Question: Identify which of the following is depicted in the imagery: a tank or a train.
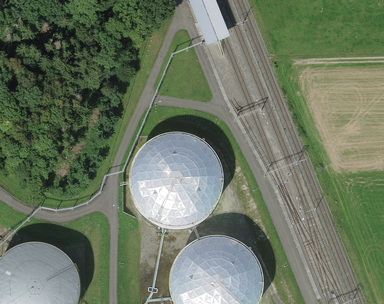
tank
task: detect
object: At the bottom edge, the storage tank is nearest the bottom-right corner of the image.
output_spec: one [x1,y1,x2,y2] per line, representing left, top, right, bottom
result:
[169,235,266,304]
